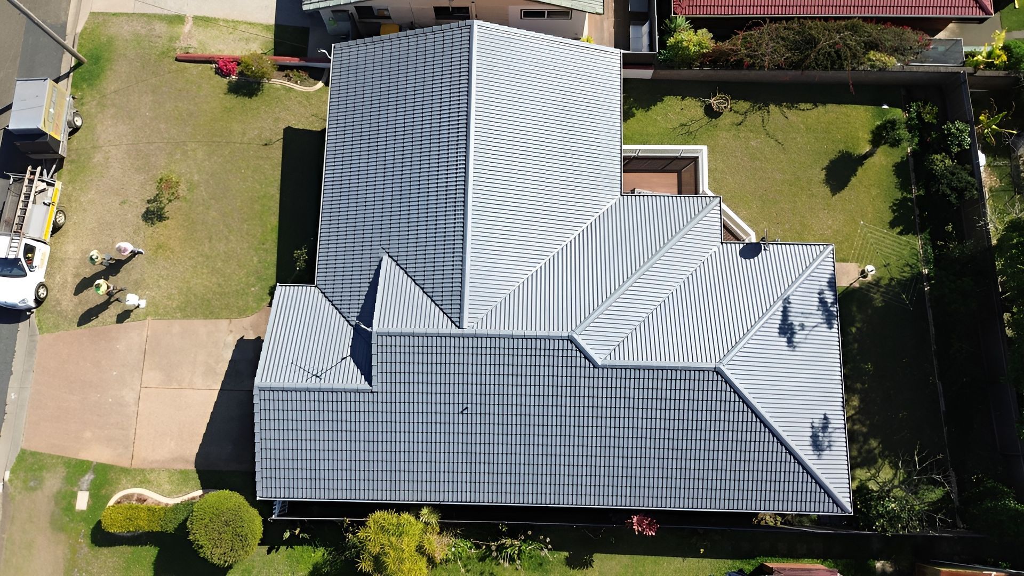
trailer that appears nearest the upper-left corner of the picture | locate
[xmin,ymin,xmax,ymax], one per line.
[6,78,78,179]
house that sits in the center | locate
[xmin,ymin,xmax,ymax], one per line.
[253,17,855,518]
